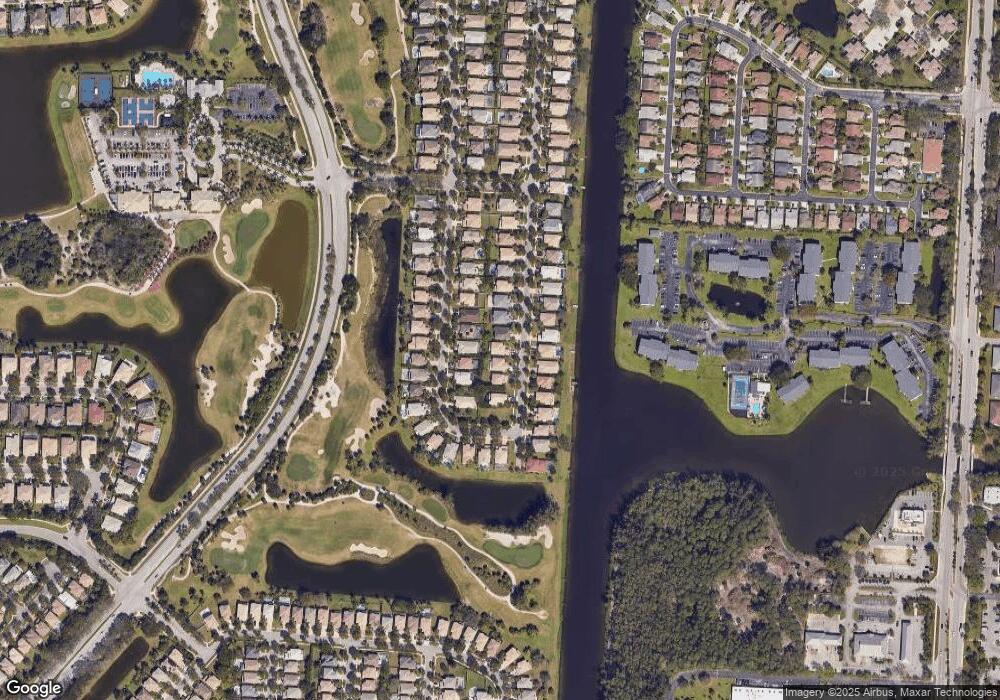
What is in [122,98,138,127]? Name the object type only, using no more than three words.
basketball court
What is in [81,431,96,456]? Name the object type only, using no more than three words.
house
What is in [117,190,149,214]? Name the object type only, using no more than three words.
building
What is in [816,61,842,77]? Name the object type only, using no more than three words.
swimming pool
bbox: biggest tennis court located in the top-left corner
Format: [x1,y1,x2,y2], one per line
[79,73,112,106]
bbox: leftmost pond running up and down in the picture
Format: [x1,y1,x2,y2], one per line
[250,201,308,331]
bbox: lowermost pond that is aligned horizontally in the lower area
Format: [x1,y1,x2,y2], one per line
[265,542,459,602]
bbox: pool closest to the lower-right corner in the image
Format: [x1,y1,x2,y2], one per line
[750,393,770,418]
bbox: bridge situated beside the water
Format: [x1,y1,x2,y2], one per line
[942,453,974,477]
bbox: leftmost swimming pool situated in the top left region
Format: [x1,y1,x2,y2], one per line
[135,62,184,90]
